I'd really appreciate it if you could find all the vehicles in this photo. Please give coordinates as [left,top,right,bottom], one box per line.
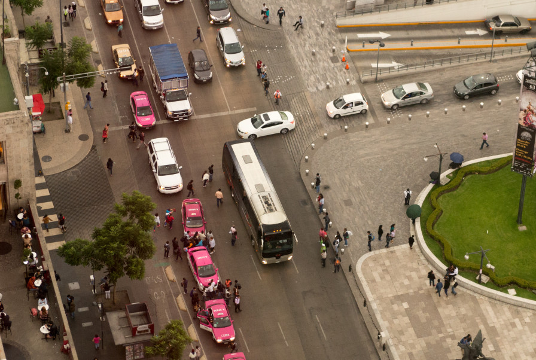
[215,24,247,68]
[221,141,305,264]
[187,48,215,84]
[111,41,140,82]
[237,112,296,139]
[99,0,127,27]
[452,73,501,101]
[186,244,220,294]
[148,38,193,122]
[196,296,238,347]
[221,350,247,360]
[378,83,437,110]
[181,197,207,246]
[133,0,165,29]
[202,0,231,24]
[147,137,183,194]
[515,63,535,85]
[127,89,159,131]
[323,91,373,120]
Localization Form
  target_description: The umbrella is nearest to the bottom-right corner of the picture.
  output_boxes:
[405,207,423,220]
